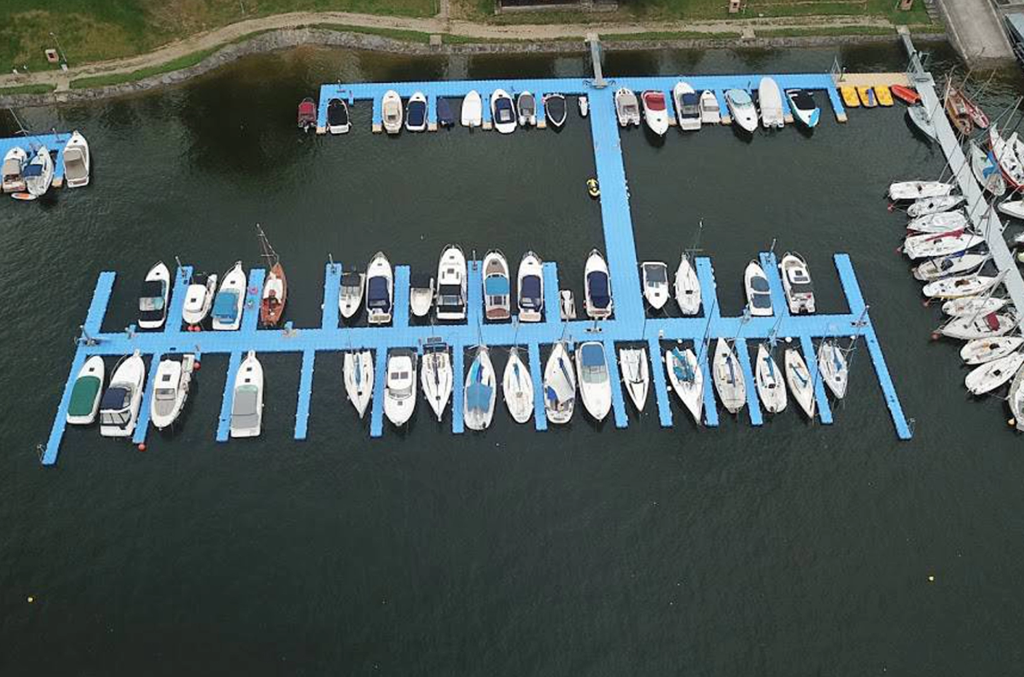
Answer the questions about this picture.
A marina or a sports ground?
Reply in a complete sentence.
This image shows a marina.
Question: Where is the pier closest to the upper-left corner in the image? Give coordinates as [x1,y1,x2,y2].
[0,133,72,189]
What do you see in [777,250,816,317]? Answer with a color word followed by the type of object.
white boat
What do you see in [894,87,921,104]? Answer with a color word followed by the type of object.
red boat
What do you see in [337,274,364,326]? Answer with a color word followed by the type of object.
white boat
